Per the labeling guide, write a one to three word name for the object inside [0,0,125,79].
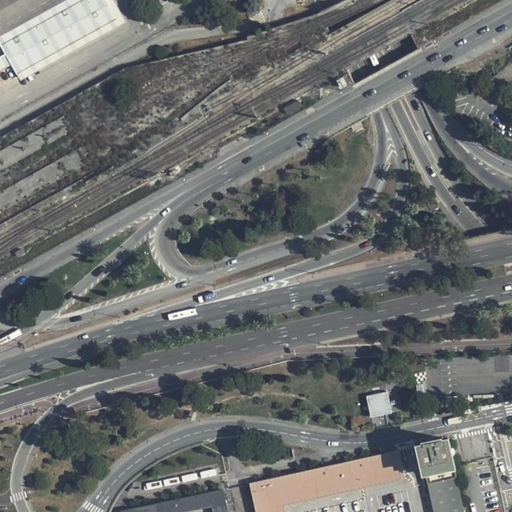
building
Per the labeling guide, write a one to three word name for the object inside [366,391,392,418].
building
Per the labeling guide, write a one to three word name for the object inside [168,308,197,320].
vehicle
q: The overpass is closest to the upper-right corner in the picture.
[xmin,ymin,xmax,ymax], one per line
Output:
[338,48,432,132]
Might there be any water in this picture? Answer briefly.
No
